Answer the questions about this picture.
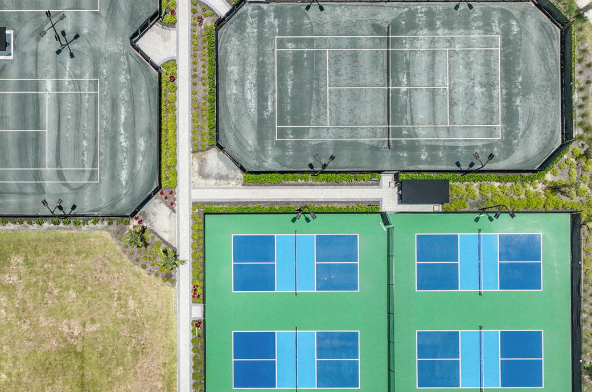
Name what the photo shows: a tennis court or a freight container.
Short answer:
tennis court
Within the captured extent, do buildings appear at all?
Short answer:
Yes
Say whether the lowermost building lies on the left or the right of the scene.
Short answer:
right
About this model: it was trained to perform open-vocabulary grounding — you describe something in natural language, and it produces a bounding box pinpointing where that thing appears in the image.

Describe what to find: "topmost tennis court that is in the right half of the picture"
[219,1,561,170]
